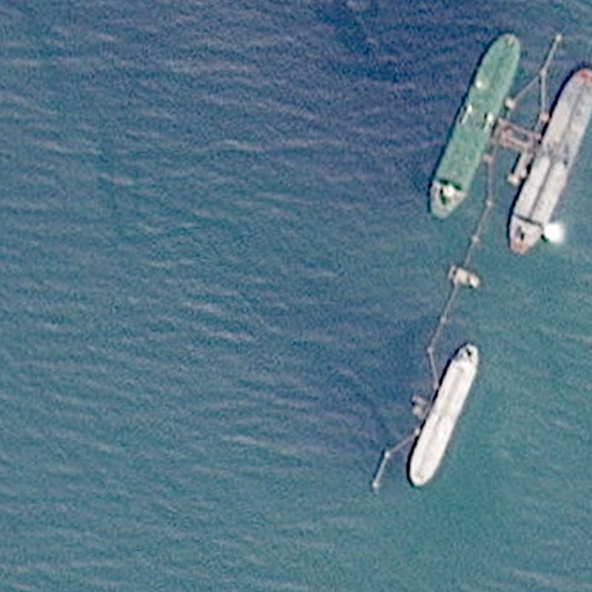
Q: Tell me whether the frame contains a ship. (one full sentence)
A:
Yes, a ship appears in the view.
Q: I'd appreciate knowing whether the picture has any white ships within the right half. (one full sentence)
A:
Yes, there is a white ship within the right half.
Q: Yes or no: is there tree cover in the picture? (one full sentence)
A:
No, no tree cover is visible.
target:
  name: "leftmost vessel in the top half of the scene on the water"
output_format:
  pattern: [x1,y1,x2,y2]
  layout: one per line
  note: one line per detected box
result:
[429,33,520,219]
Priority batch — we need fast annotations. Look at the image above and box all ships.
[510,68,592,255]
[410,342,480,487]
[429,33,520,219]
